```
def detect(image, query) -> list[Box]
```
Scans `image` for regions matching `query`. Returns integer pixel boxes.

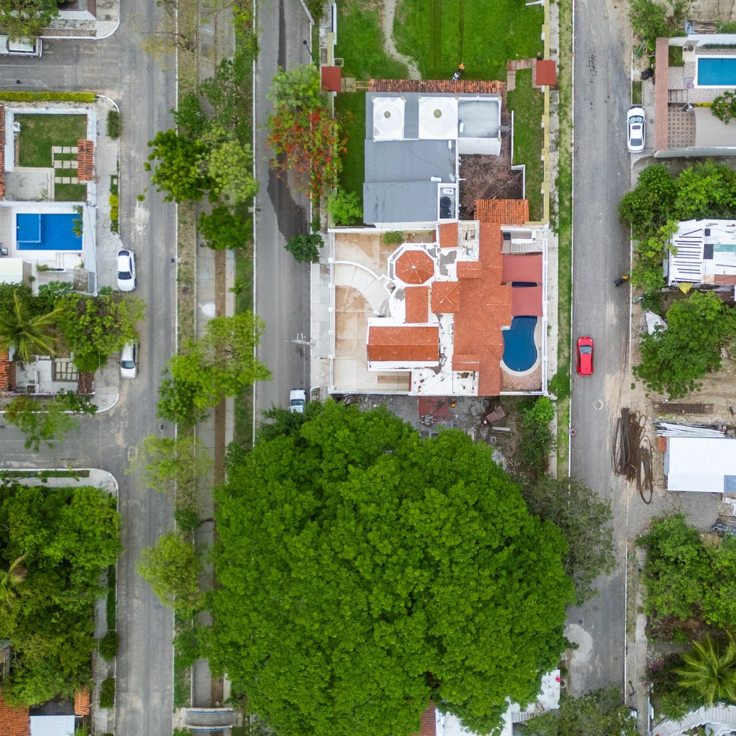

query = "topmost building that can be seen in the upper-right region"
[536,60,556,86]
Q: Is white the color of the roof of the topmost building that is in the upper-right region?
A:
No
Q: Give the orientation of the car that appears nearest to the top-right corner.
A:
up and down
